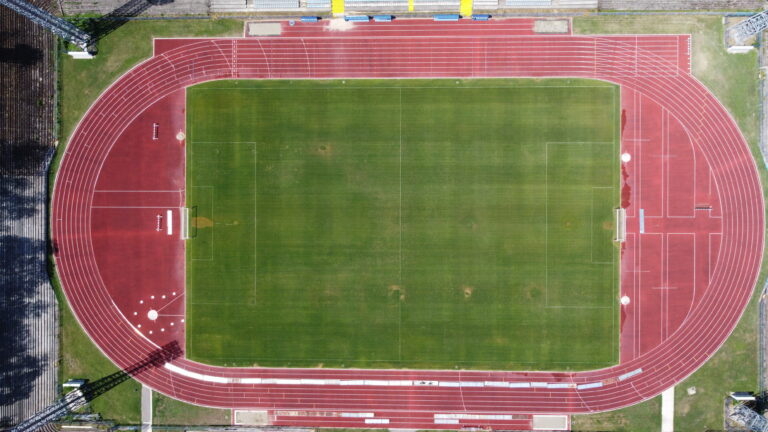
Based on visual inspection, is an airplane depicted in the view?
No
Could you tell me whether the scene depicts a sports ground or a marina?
sports ground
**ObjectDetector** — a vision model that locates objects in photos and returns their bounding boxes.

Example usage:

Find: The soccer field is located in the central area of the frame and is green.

[185,77,621,371]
